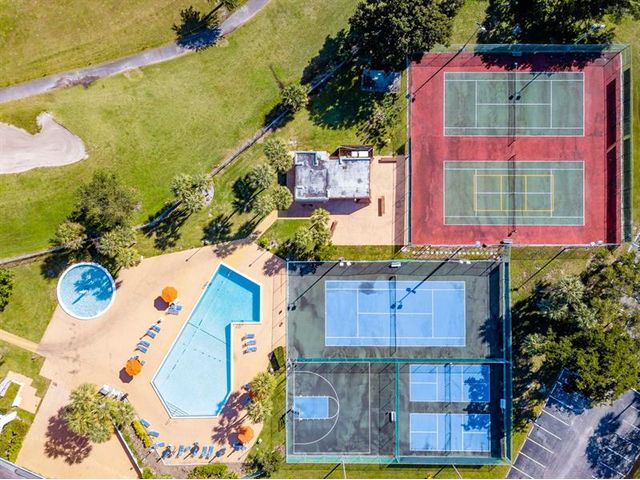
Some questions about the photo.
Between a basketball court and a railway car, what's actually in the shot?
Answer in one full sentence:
This aerial view contains a basketball court.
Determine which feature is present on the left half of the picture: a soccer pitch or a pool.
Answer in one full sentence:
The feature located on the left half of the picture is a pool.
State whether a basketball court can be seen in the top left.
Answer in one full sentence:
No, there is no basketball court in the top left.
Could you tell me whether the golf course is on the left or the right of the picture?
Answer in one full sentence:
It is on the left.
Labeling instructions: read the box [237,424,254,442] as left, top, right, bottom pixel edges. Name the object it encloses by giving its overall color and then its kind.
orange umbrella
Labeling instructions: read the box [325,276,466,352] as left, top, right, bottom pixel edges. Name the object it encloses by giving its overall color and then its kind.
blue tennis court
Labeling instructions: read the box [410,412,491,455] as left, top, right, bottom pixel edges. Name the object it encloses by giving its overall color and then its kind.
blue sports court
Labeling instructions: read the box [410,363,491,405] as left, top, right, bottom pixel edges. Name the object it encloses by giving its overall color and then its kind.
blue sports court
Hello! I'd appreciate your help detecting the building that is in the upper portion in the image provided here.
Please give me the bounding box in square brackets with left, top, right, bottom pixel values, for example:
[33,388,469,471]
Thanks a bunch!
[296,152,371,202]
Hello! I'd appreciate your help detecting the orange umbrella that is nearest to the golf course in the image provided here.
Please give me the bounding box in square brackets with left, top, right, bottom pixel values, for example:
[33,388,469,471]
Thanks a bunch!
[161,286,178,302]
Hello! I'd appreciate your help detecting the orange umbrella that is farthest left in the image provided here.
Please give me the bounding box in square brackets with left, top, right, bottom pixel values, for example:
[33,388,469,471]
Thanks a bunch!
[125,358,142,375]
